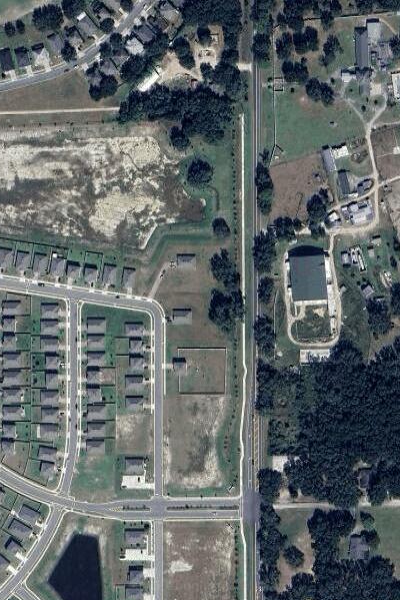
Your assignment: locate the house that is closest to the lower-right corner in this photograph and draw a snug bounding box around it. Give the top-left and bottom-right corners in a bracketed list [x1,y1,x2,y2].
[351,536,369,559]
